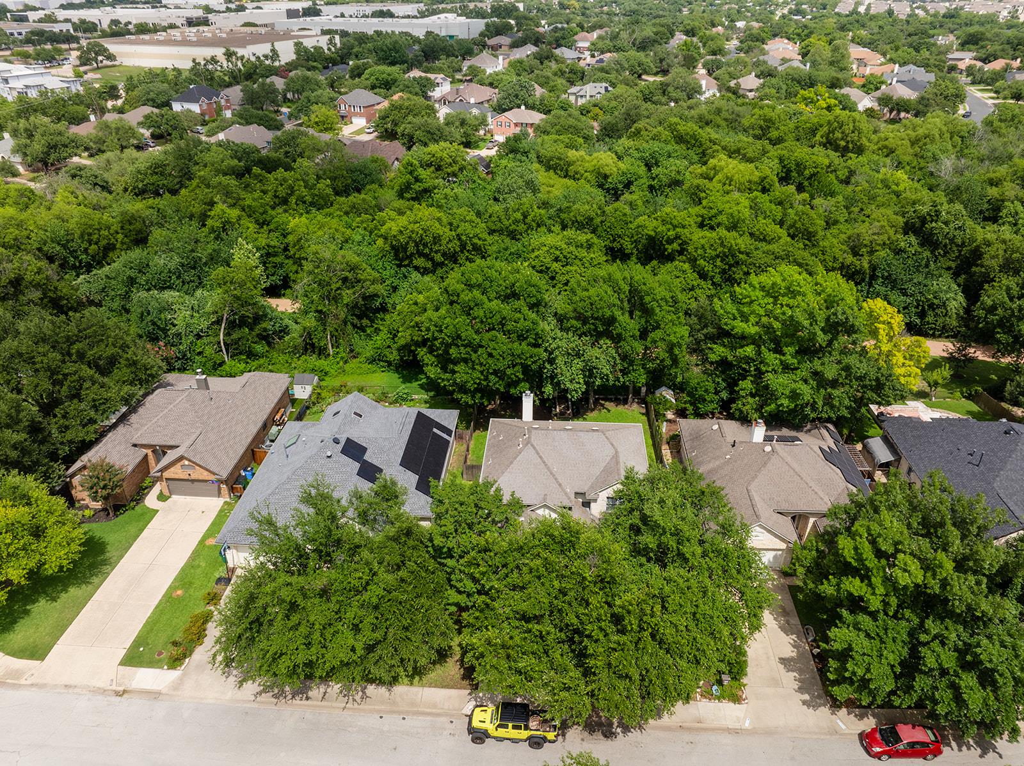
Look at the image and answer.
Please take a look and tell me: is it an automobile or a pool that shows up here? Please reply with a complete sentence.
The one in the frame is an automobile.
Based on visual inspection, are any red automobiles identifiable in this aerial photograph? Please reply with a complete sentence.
Yes, the picture does show a red automobile.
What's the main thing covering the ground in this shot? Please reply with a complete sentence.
For the most part, this view shows trees.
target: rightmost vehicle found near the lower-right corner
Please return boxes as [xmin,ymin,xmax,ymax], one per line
[862,719,951,762]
